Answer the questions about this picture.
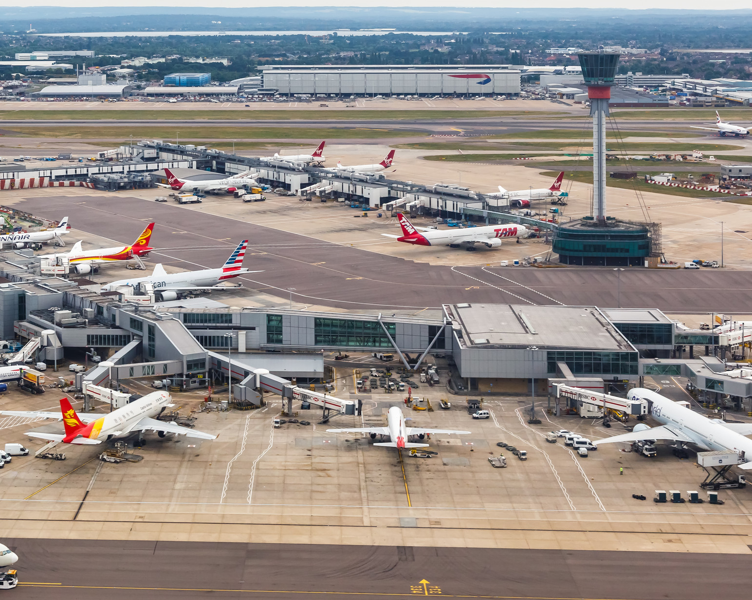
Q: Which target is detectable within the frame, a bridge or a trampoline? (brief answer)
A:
bridge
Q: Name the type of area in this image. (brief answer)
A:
airport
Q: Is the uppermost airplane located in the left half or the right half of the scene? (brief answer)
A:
right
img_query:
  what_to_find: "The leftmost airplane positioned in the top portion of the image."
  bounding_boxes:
[1,223,79,254]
